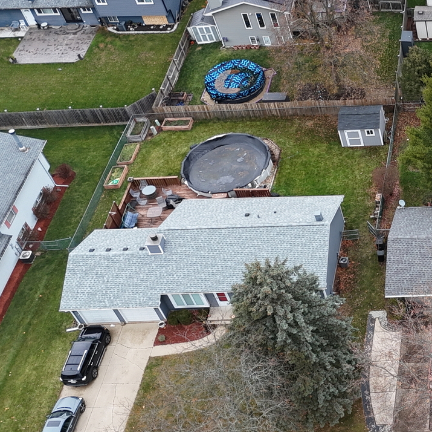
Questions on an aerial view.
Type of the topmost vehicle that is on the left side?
automobile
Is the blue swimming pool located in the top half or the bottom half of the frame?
top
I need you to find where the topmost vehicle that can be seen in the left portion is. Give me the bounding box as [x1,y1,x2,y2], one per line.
[53,322,109,390]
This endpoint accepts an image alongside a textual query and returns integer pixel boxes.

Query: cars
[39,395,86,432]
[53,322,109,390]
